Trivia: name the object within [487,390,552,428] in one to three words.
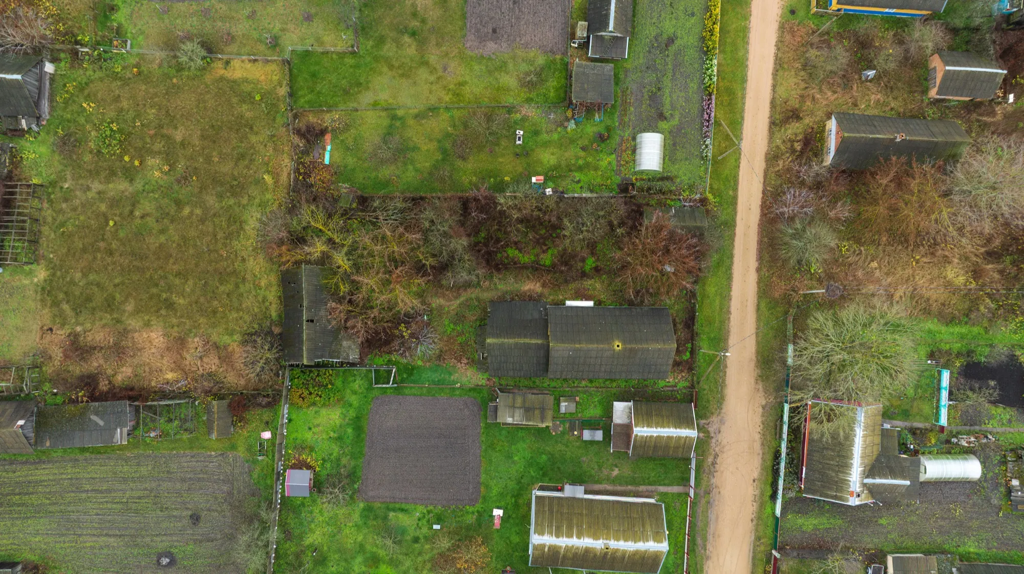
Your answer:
shed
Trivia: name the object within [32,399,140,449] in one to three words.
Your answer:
barn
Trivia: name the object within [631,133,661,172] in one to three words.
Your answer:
greenhouse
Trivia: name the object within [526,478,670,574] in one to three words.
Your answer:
house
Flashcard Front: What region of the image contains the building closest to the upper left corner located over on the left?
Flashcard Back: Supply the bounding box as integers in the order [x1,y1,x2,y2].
[0,56,56,129]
